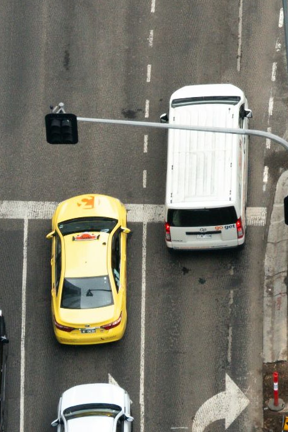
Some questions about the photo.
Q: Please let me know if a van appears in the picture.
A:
Yes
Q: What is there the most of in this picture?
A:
paved ground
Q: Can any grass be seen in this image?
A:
No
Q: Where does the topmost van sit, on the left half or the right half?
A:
right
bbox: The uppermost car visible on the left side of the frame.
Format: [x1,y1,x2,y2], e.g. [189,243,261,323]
[46,191,140,345]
